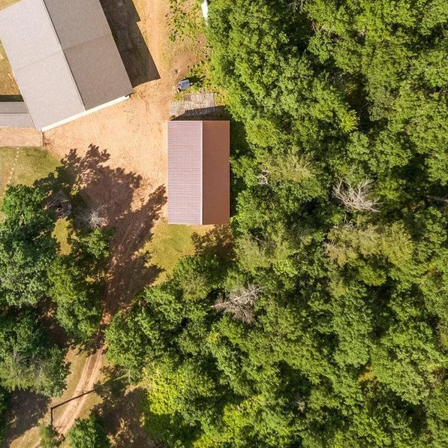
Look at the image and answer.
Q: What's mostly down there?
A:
trees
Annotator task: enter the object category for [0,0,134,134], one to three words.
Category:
barn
